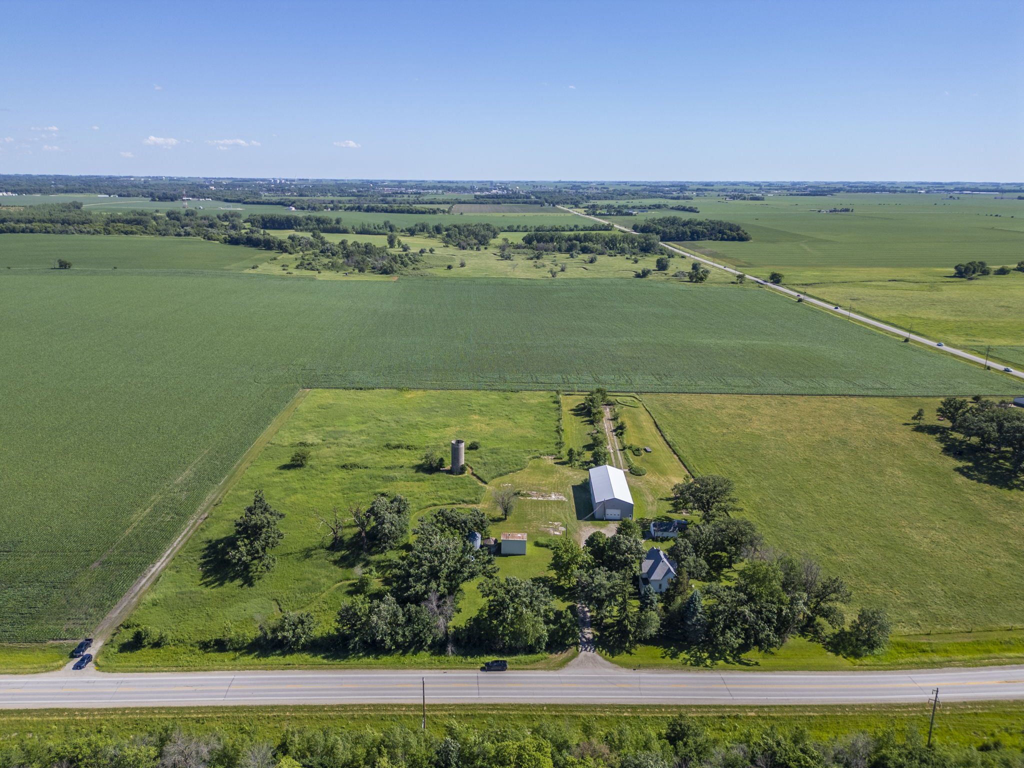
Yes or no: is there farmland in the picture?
Yes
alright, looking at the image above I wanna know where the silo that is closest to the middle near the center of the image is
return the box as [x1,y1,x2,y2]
[451,438,464,472]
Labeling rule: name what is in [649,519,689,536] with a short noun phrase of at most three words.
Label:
building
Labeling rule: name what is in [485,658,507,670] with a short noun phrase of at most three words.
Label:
vehicle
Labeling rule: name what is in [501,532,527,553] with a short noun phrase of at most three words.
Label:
shed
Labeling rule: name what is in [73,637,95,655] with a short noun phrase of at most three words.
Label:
vehicle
